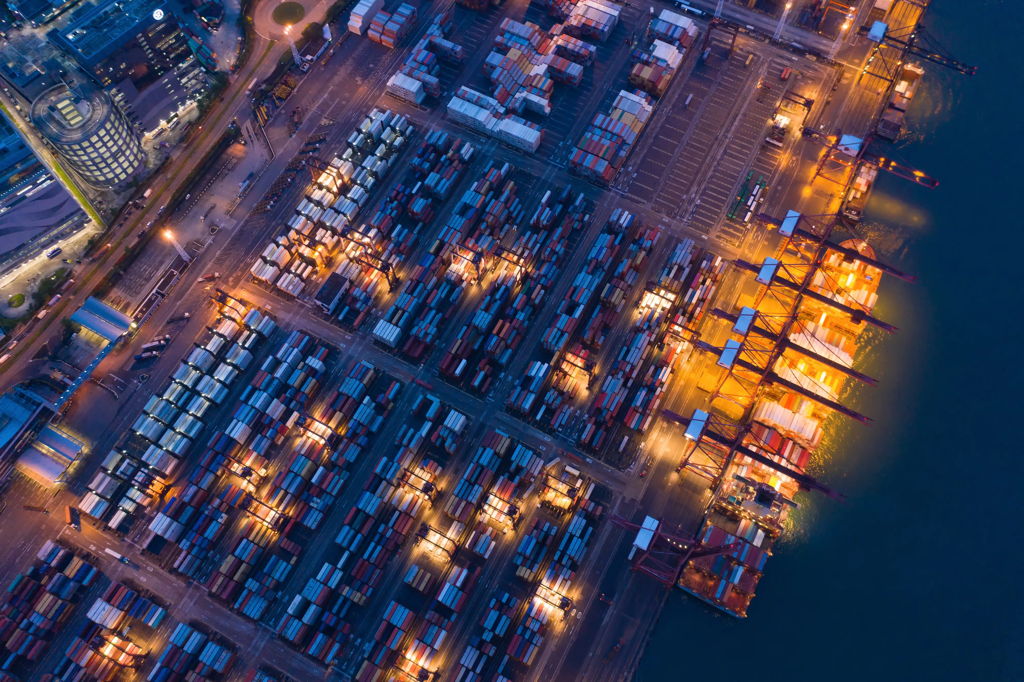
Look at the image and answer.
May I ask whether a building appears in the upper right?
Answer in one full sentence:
No, looking in the upper right, there is no building.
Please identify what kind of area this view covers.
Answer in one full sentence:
This image shows a port.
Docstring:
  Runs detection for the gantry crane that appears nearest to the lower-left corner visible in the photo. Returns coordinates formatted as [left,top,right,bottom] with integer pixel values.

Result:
[92,635,148,673]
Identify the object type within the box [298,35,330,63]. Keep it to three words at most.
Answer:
building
